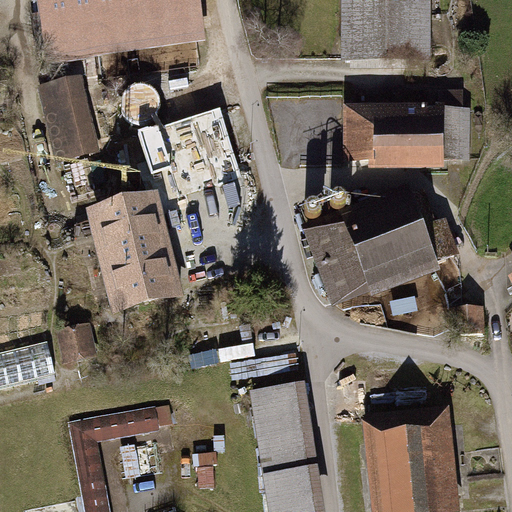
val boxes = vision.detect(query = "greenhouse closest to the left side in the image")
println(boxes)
[0,341,56,388]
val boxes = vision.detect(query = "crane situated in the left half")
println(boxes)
[3,148,141,190]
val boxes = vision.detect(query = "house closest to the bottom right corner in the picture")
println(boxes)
[361,405,460,512]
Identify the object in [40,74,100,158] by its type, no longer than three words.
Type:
shed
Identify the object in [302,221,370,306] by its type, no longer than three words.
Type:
barn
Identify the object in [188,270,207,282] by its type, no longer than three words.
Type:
vehicle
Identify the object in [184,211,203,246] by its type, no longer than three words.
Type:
vehicle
